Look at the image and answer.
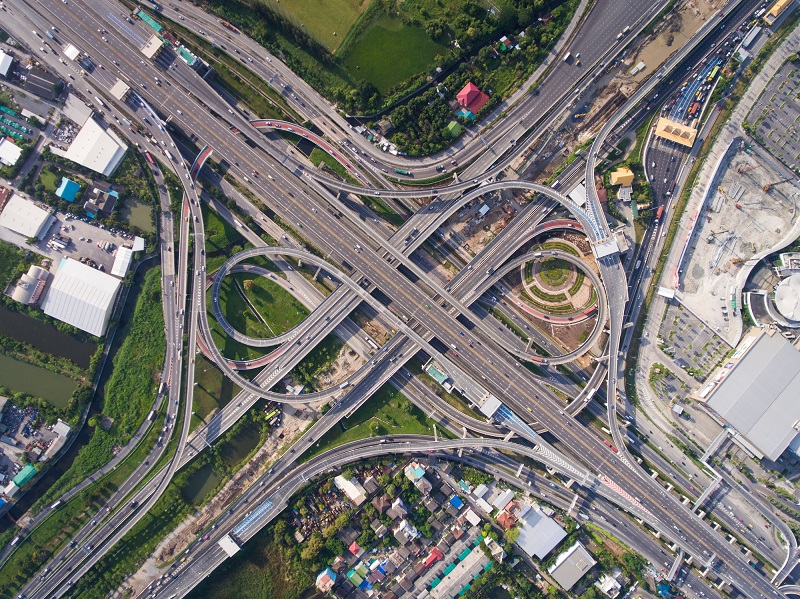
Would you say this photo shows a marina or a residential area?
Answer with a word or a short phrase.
residential area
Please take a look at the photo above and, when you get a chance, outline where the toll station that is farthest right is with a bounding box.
[649,117,698,147]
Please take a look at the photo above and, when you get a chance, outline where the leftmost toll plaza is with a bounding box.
[62,43,82,62]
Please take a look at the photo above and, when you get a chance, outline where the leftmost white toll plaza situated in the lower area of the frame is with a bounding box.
[218,529,245,557]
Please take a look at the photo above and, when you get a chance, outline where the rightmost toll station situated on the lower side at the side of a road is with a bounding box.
[475,390,503,419]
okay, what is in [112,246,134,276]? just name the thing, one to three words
shed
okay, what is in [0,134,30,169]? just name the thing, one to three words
building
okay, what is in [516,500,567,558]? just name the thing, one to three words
building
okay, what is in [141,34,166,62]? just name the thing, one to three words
toll station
